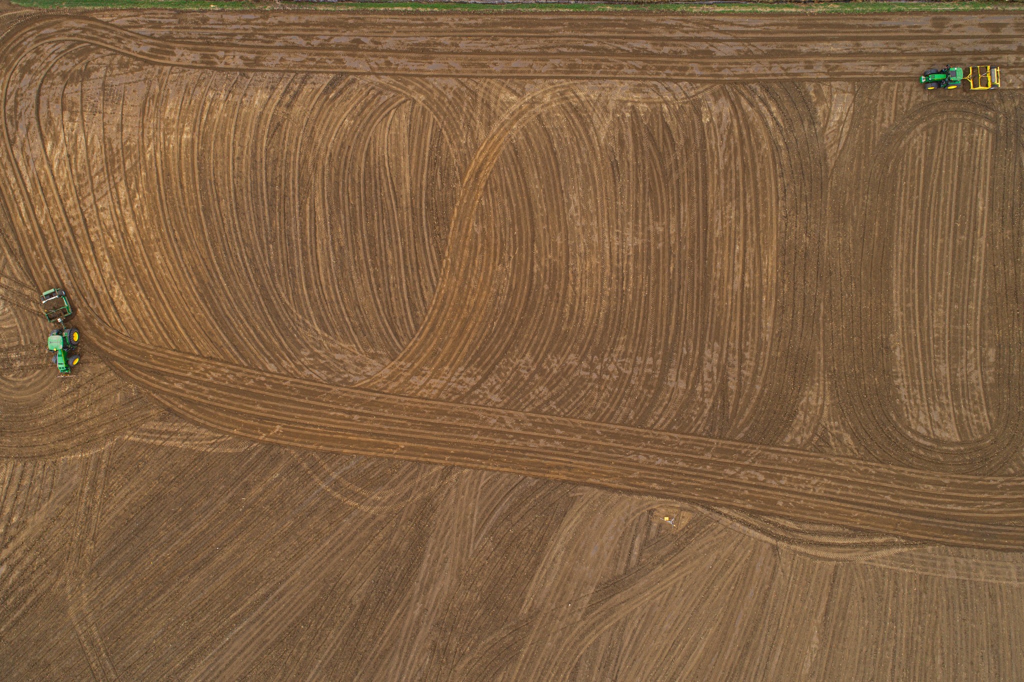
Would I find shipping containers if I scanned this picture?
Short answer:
No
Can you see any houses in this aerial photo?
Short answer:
No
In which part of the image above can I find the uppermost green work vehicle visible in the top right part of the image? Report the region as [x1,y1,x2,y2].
[919,66,963,91]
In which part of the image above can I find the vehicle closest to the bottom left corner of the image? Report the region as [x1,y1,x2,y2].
[48,328,82,378]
